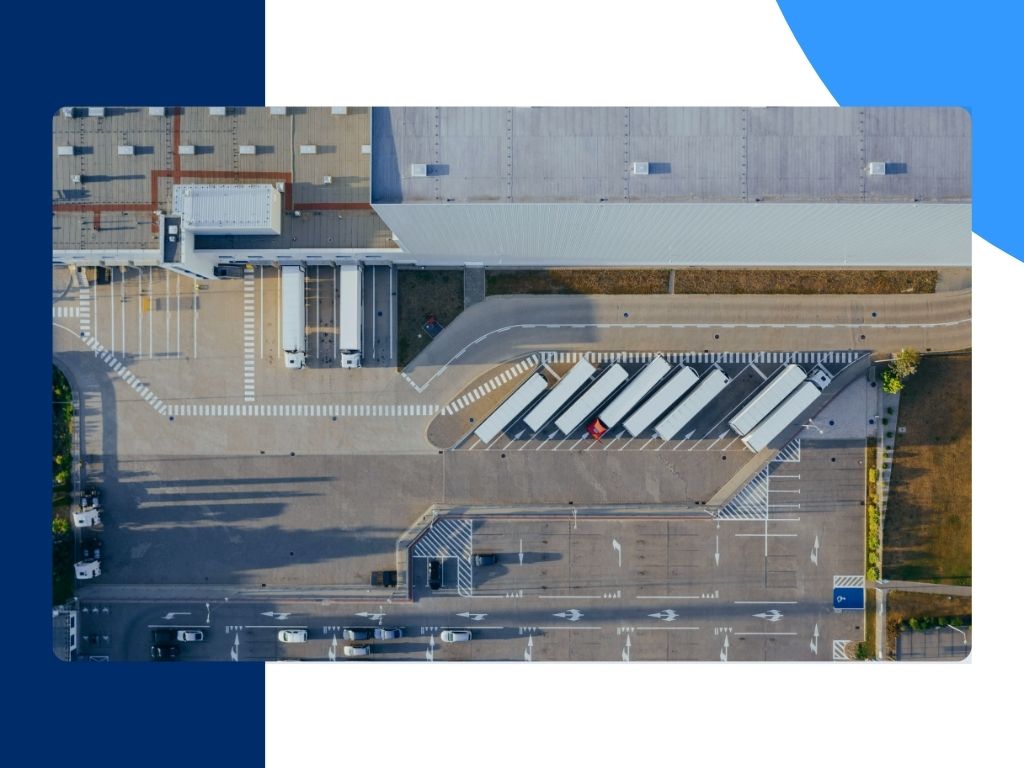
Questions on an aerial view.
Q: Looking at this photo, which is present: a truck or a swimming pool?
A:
truck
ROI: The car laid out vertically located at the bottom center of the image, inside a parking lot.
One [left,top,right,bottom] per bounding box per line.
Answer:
[427,559,441,588]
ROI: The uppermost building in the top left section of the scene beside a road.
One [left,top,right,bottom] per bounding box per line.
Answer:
[0,0,412,282]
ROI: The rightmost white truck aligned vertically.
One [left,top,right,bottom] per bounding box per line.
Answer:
[340,266,361,369]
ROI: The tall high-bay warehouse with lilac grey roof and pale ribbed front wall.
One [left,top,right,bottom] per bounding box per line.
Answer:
[371,0,1024,272]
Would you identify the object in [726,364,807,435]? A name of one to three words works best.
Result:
trailer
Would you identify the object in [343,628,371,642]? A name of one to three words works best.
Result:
car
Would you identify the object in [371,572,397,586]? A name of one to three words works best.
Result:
vehicle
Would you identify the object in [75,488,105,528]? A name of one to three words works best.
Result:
truck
